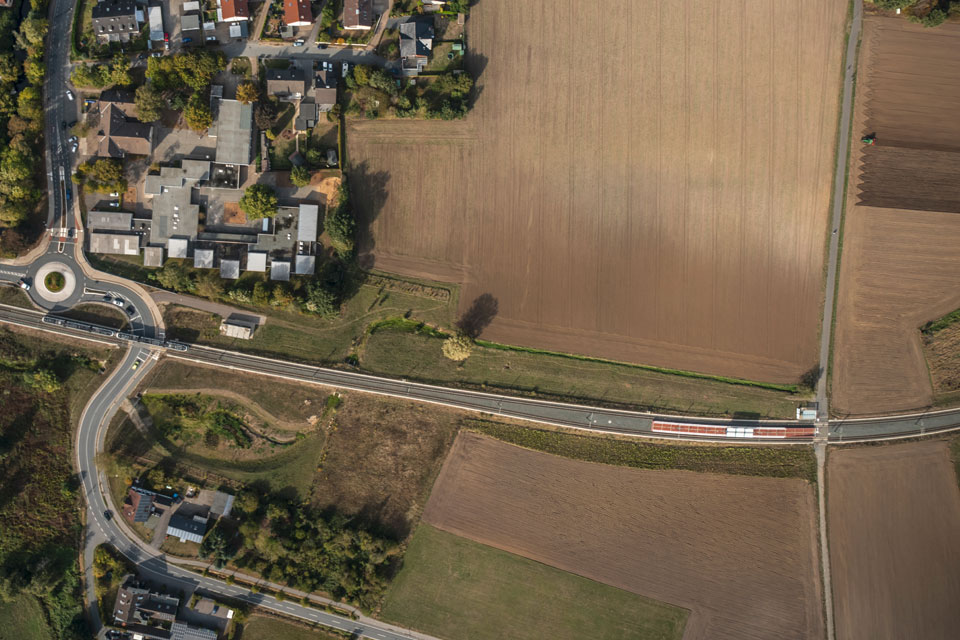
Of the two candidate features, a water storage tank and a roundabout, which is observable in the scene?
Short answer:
roundabout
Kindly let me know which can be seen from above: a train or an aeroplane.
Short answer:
train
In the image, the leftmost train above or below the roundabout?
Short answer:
below it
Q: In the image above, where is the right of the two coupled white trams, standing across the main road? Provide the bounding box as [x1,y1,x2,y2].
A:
[116,331,188,350]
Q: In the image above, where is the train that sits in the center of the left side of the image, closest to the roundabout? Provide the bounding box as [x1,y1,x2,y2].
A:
[42,315,113,335]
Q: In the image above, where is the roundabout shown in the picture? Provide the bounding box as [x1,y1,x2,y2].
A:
[24,250,87,314]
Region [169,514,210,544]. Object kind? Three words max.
barn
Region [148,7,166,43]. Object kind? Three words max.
shed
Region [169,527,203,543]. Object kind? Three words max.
solar array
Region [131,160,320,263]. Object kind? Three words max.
building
